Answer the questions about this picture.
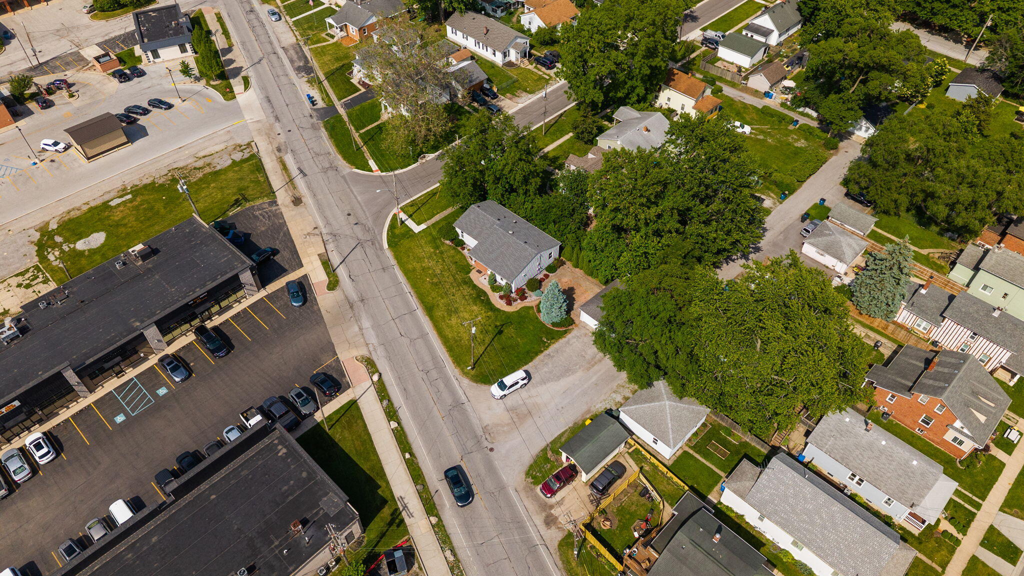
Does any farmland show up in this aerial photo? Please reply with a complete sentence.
No, farmland can't be seen anywhere here.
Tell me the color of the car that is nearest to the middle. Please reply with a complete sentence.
The car that is nearest to the middle is white.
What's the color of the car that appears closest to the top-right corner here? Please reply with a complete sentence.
The color of the car that appears closest to the top-right corner is black.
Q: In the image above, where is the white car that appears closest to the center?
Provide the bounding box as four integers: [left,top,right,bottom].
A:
[491,369,530,400]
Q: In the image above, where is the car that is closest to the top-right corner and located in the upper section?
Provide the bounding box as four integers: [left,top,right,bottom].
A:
[843,188,873,209]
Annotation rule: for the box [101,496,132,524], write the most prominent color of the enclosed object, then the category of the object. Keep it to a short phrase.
white vehicle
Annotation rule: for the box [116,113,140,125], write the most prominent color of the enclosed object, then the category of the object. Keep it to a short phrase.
black vehicle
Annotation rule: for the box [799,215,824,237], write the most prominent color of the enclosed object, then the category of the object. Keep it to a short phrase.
gray car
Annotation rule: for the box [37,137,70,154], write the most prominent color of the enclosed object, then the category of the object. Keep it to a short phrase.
white car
